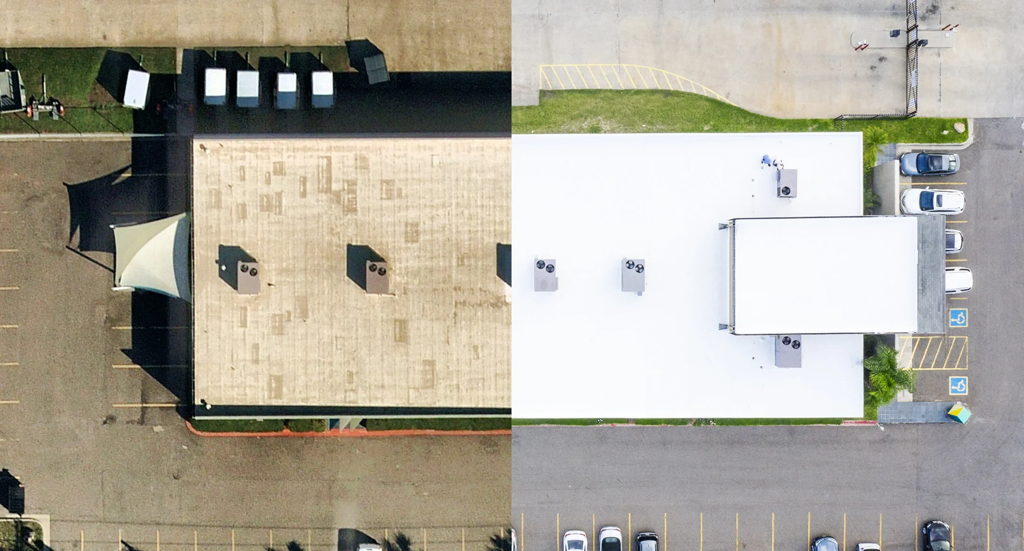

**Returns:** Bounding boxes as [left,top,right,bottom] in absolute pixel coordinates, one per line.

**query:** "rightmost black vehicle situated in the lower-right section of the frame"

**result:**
[922,521,954,551]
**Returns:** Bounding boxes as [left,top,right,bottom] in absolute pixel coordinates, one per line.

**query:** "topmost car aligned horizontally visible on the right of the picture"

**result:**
[901,149,961,177]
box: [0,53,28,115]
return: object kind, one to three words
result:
trailer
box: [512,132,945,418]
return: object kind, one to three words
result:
building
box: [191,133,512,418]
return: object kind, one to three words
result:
building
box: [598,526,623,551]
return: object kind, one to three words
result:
car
